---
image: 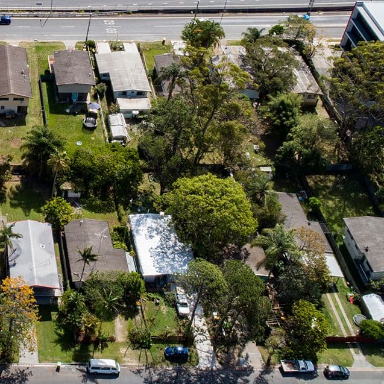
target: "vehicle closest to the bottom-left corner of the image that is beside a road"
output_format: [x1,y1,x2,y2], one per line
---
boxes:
[87,358,120,375]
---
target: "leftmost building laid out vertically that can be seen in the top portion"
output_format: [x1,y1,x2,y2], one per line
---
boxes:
[0,44,33,114]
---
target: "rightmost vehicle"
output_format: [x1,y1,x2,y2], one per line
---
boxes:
[322,364,352,379]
